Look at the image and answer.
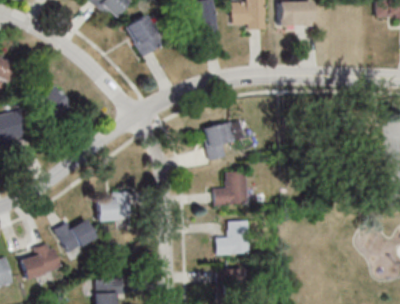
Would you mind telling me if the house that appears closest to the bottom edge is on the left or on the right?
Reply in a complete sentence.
The house that appears closest to the bottom edge is on the left side of the image.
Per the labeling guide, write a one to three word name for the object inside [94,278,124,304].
house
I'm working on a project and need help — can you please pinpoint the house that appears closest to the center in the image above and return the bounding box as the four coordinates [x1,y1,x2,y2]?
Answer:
[204,122,236,159]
